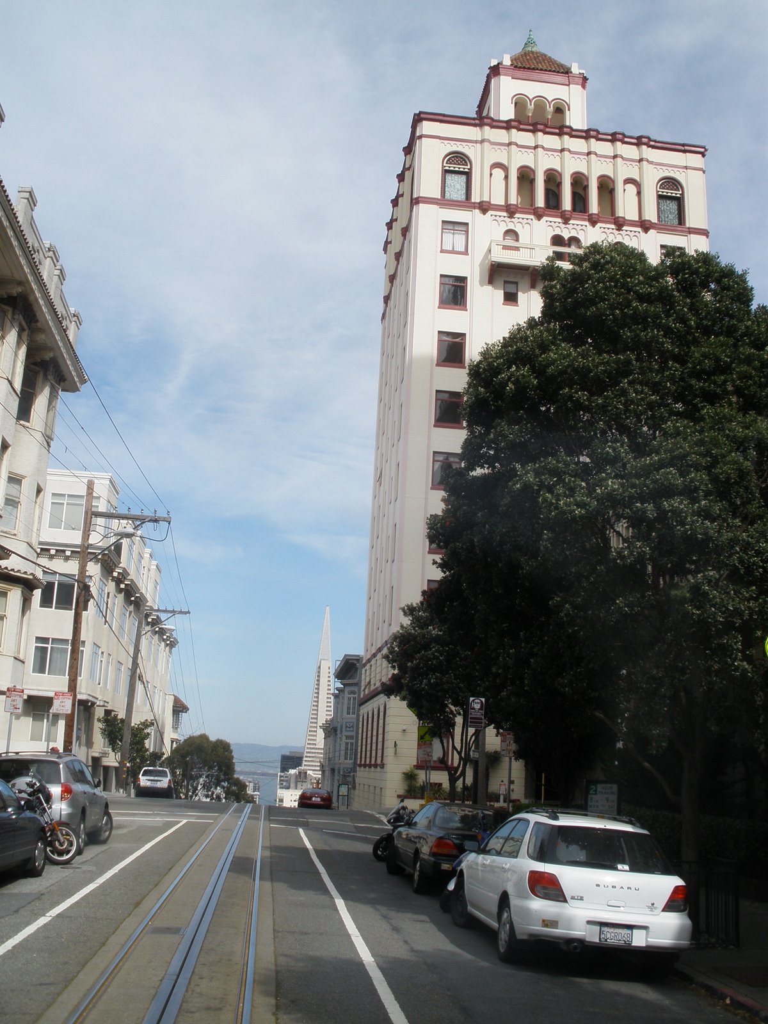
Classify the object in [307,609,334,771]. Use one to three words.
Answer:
building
